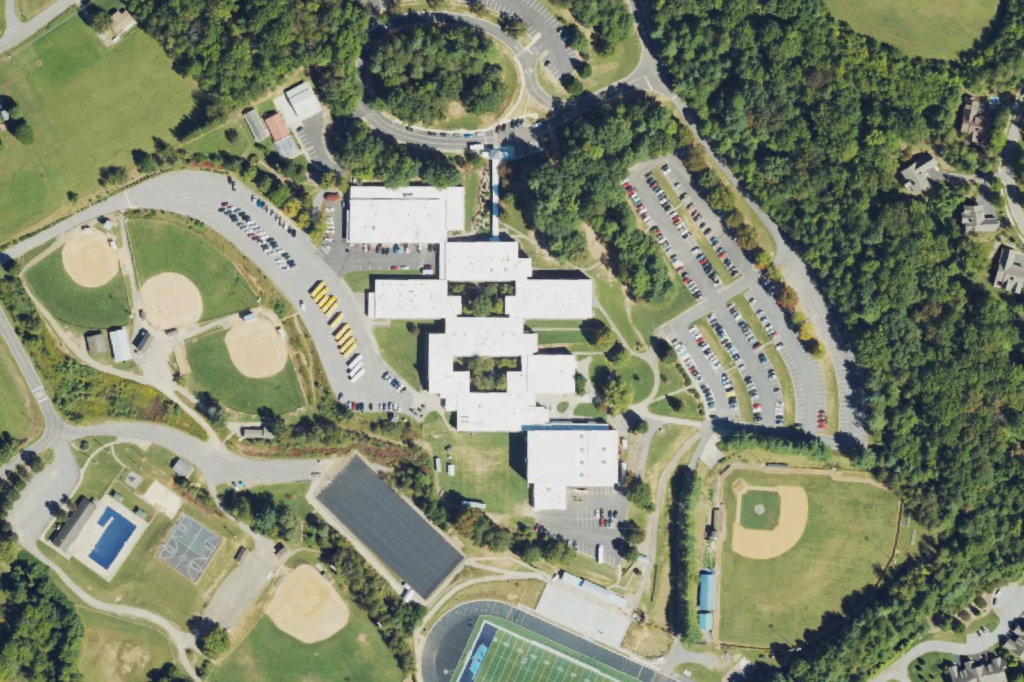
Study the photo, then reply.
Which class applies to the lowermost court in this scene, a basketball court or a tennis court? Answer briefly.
basketball court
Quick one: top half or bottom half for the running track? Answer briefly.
bottom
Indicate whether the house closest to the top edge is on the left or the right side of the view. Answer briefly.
left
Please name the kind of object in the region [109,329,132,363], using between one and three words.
building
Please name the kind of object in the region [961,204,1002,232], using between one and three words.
house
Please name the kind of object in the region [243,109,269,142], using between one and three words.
shed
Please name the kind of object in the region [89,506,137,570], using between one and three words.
swimming pool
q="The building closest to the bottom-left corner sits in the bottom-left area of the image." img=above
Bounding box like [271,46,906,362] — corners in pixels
[51,498,97,553]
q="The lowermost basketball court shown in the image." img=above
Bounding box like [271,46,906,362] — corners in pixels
[156,512,222,582]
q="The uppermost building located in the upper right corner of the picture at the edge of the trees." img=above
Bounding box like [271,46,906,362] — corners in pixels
[961,98,986,142]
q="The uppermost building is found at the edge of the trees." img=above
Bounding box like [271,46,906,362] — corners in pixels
[110,8,139,41]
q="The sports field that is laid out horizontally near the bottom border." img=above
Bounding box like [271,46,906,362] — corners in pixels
[449,615,636,682]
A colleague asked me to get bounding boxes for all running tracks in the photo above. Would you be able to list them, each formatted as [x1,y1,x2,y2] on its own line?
[422,599,656,682]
